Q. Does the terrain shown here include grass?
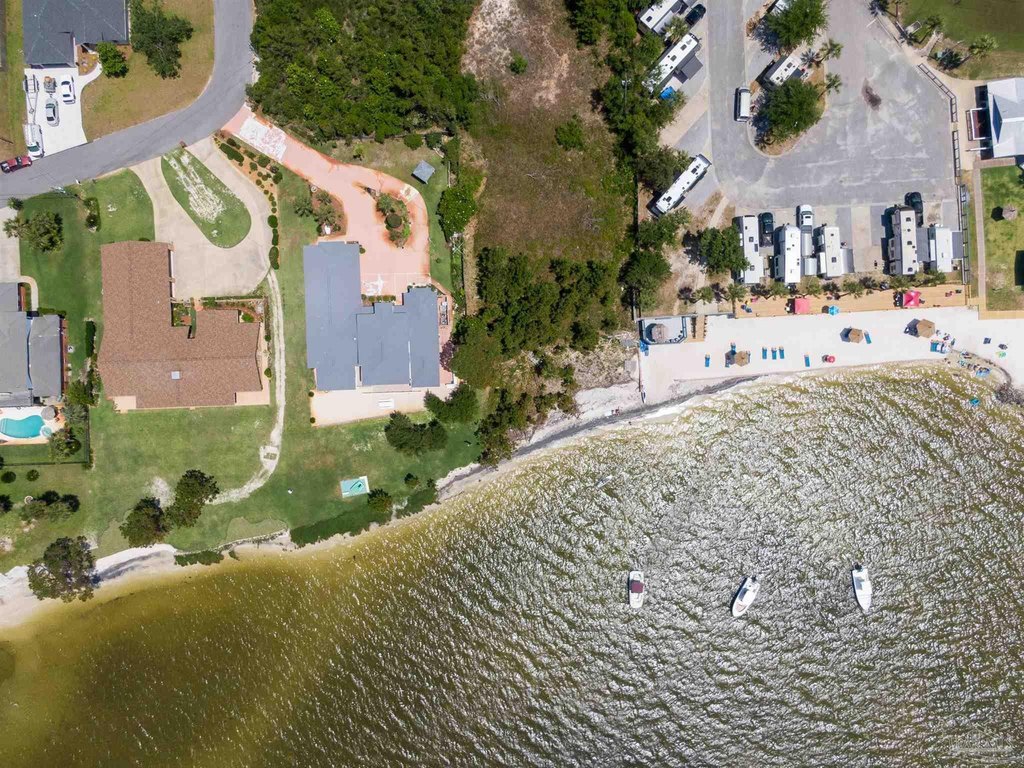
Yes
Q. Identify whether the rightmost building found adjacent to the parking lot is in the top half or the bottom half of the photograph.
top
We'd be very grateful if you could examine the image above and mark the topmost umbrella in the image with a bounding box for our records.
[999,204,1018,220]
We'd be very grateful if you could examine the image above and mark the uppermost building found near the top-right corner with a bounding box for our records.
[968,79,1024,157]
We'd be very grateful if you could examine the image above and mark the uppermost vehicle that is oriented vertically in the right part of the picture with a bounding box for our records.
[734,90,750,124]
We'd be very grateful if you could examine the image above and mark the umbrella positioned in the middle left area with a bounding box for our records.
[42,406,57,420]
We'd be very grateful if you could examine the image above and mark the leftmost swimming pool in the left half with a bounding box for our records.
[0,402,66,445]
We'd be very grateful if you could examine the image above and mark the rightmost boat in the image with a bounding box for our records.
[851,564,872,612]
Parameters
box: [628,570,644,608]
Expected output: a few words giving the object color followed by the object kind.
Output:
white boat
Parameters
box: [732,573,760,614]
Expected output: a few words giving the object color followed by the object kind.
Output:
white boat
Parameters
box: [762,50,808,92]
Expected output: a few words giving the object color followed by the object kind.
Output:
white camper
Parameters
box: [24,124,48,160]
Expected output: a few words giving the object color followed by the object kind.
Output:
white vehicle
